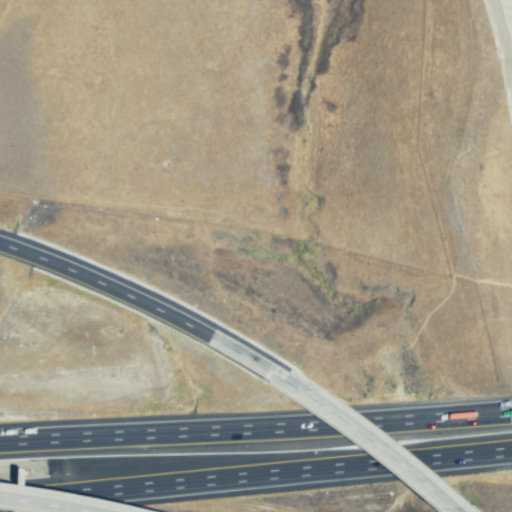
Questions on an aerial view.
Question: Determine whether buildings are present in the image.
No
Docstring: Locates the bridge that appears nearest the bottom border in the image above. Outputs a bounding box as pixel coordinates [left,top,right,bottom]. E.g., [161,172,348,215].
[0,468,162,512]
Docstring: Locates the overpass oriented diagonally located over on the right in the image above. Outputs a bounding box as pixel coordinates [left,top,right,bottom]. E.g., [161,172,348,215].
[276,367,484,512]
